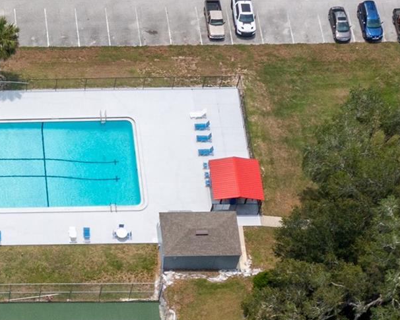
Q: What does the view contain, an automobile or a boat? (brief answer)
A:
automobile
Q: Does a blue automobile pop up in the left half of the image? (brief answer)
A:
No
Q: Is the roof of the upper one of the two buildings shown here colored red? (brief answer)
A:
Yes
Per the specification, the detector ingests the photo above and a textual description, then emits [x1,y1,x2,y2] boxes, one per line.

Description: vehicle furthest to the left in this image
[202,0,225,39]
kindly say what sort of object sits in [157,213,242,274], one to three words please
building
